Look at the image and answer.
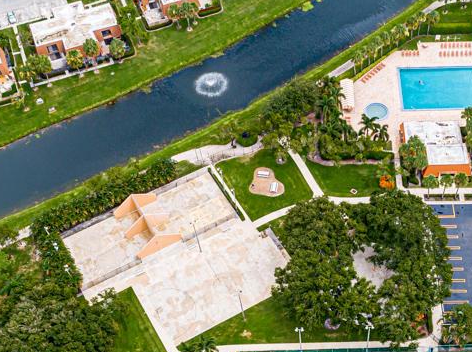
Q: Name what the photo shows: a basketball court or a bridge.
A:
basketball court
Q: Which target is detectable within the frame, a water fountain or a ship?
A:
water fountain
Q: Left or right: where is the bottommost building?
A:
right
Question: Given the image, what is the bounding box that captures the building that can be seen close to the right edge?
[399,120,472,178]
